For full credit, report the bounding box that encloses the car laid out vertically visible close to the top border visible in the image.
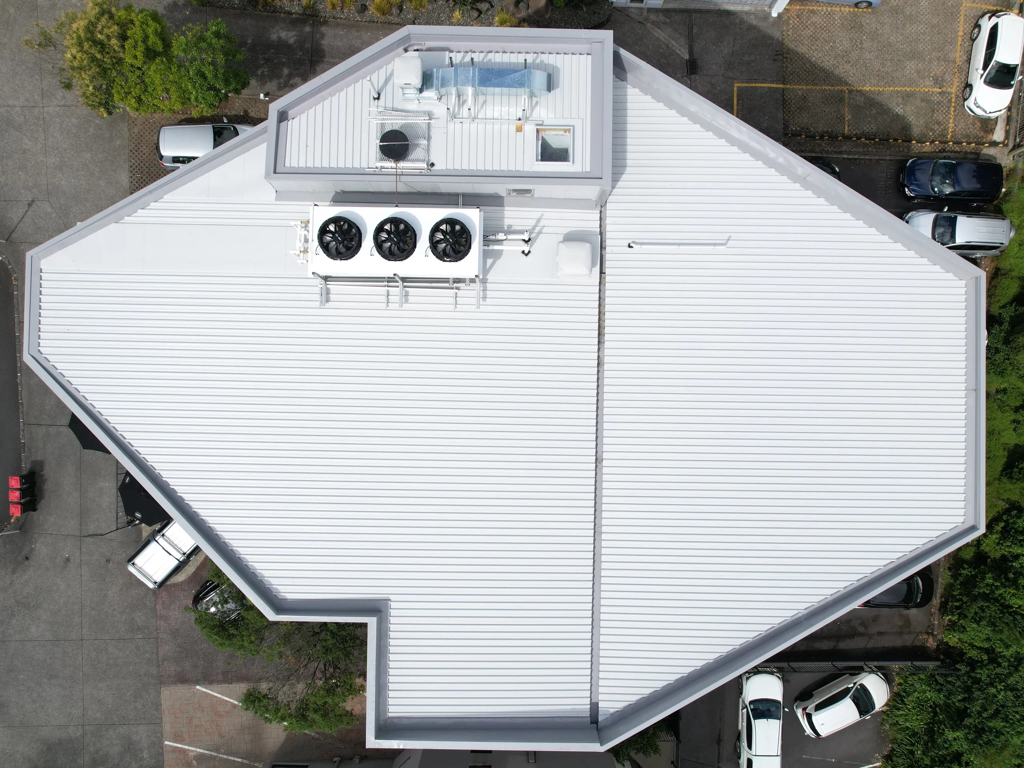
[963,13,1024,122]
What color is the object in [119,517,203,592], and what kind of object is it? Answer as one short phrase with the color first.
white truck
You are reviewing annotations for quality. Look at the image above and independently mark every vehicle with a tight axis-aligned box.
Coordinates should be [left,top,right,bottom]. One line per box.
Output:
[963,13,1024,122]
[789,0,879,11]
[808,156,843,185]
[119,517,203,592]
[154,119,252,171]
[735,671,793,768]
[896,150,1015,207]
[794,670,894,742]
[854,567,934,615]
[901,201,1023,258]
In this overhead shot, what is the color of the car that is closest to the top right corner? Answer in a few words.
white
